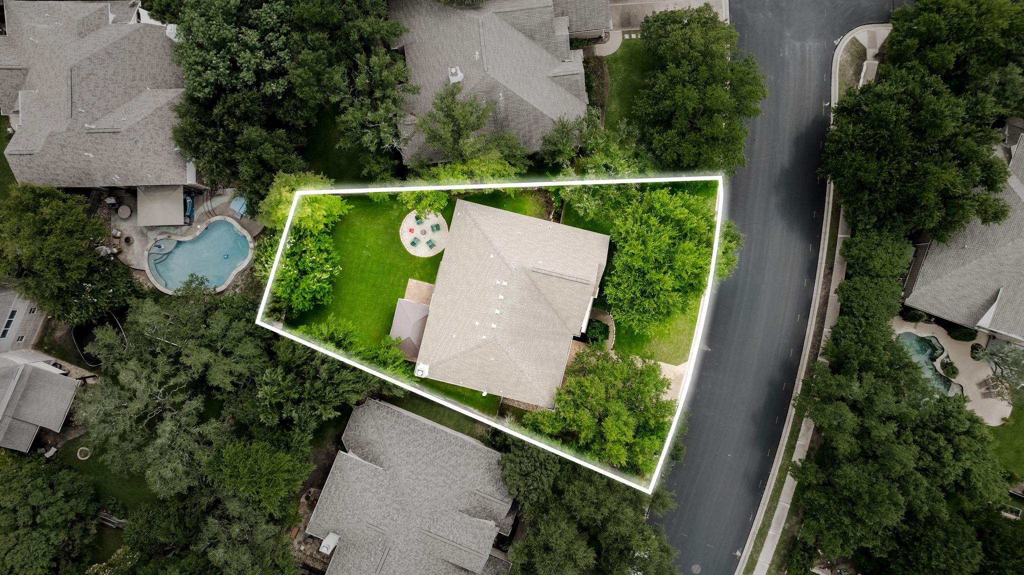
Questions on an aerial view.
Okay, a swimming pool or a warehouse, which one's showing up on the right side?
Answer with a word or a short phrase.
swimming pool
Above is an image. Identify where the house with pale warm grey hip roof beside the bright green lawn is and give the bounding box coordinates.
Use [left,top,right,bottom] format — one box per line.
[414,199,611,411]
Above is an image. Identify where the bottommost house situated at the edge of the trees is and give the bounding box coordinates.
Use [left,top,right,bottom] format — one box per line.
[306,400,513,575]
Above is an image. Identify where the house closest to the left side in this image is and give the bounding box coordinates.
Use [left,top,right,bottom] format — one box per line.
[0,282,96,454]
